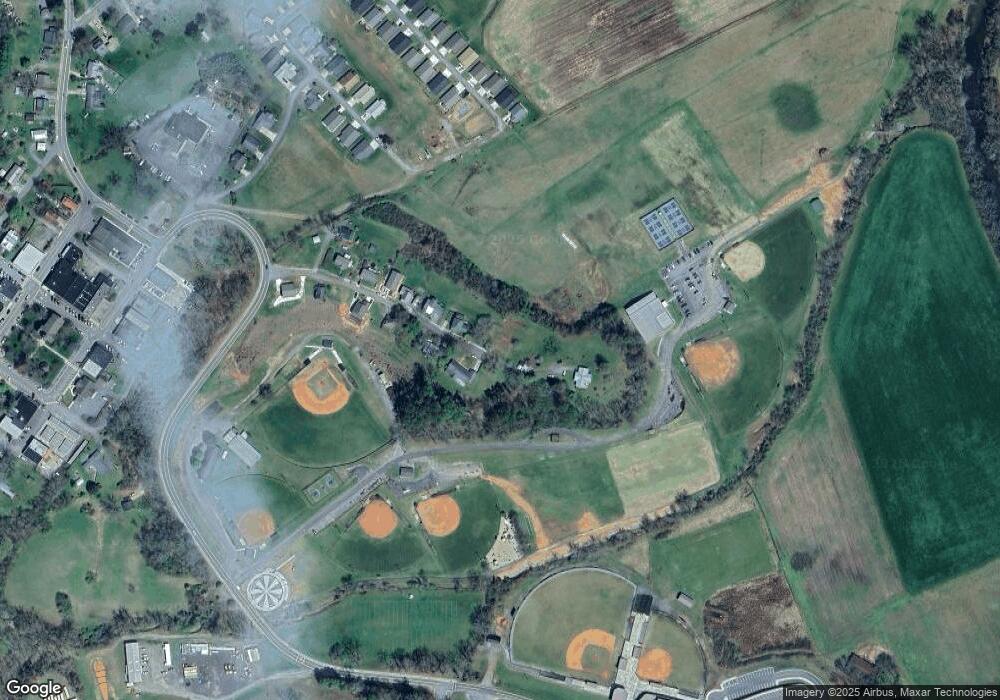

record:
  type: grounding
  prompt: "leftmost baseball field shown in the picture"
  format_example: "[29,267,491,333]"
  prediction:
[212,474,308,553]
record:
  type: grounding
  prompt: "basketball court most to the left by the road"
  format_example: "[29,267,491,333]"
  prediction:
[302,470,344,508]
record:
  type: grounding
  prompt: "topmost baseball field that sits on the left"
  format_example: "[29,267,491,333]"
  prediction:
[262,357,394,469]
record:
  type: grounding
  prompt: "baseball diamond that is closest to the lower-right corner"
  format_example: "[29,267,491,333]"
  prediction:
[635,610,706,695]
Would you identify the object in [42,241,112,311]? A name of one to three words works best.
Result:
building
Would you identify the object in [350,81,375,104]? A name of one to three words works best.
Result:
house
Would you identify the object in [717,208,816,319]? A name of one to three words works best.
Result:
baseball field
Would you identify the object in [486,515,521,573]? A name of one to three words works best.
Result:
playground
